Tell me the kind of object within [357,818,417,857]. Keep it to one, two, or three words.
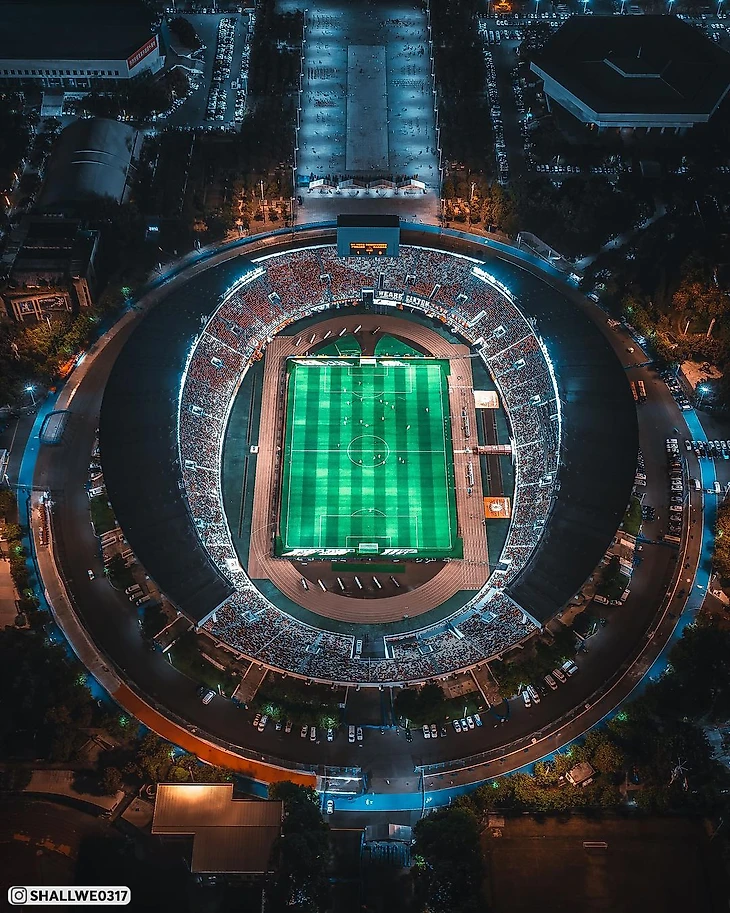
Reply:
building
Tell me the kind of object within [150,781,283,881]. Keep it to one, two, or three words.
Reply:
building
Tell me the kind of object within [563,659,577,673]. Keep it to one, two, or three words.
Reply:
vehicle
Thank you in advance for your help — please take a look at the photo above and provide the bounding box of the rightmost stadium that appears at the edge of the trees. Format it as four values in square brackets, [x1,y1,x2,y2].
[529,15,730,141]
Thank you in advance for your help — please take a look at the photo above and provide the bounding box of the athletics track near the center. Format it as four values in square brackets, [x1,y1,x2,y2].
[230,313,513,624]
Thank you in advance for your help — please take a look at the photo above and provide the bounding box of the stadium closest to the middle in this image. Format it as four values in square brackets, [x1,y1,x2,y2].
[91,241,647,698]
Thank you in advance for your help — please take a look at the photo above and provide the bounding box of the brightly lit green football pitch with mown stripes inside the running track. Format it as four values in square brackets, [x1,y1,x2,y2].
[280,358,472,559]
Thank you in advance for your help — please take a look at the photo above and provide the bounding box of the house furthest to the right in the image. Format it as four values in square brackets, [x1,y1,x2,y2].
[565,761,595,794]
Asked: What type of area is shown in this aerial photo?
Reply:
sports ground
